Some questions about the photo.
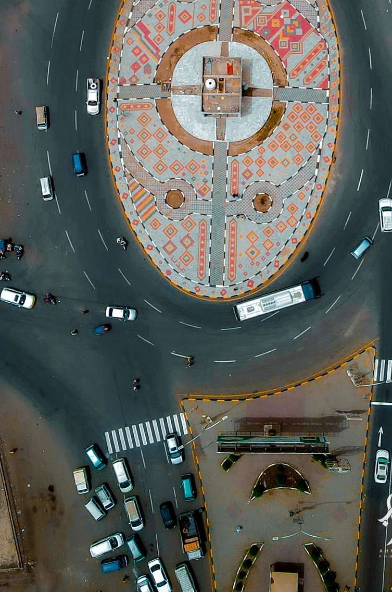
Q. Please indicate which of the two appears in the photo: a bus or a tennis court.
bus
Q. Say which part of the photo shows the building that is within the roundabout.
top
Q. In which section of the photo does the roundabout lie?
top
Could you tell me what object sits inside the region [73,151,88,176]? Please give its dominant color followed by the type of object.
blue vehicle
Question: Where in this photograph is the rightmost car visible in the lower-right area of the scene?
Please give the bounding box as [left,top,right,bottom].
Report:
[375,447,390,484]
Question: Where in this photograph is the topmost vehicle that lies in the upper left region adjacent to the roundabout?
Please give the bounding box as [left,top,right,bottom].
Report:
[85,78,100,116]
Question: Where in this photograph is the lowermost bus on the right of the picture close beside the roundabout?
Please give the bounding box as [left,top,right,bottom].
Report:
[232,277,324,324]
